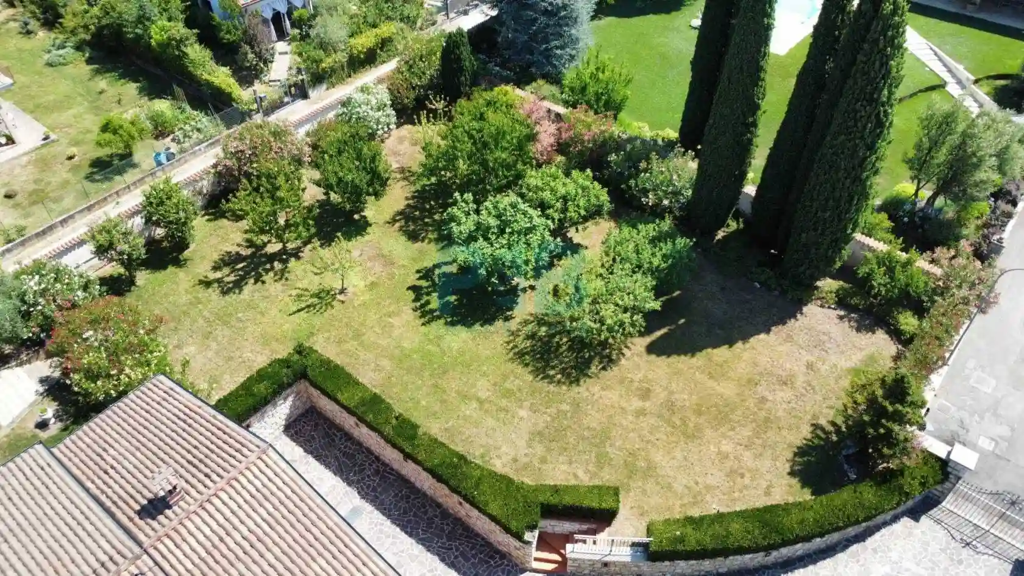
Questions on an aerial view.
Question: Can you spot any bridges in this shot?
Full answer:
No, the frame has no bridge in it.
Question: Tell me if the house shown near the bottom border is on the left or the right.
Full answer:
You can find the house shown near the bottom border on the left side of the picture.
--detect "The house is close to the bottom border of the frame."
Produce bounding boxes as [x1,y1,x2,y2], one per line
[0,373,406,576]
